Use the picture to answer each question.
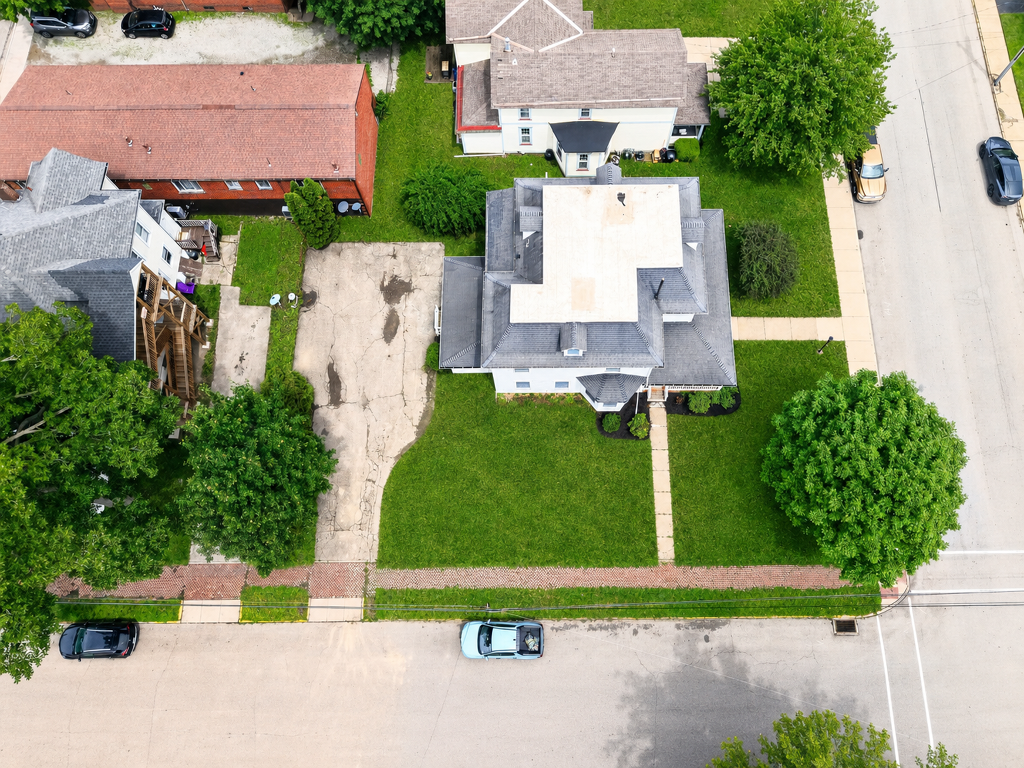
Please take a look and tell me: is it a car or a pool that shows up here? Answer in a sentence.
I can see a car in this picture.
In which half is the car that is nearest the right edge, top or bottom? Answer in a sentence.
The car that is nearest the right edge sits in the top half of the picture.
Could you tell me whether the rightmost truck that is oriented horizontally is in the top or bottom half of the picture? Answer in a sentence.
You can find the rightmost truck that is oriented horizontally in the bottom half.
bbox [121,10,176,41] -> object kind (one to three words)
car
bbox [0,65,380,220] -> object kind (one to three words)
building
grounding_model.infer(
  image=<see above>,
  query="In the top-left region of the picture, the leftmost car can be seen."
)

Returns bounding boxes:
[30,9,96,43]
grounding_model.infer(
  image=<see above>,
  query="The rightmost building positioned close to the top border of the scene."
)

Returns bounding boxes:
[446,0,709,176]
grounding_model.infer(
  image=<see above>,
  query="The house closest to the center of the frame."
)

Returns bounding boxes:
[435,159,738,416]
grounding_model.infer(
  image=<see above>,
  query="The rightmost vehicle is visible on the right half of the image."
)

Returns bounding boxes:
[979,139,1024,204]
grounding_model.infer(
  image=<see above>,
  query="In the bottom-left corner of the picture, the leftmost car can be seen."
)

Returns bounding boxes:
[61,621,143,662]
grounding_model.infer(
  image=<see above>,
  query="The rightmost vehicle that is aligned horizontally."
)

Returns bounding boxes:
[460,619,546,661]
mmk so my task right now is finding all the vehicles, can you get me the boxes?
[460,619,546,661]
[30,9,96,43]
[121,10,176,41]
[979,139,1024,204]
[61,621,143,662]
[853,131,890,204]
